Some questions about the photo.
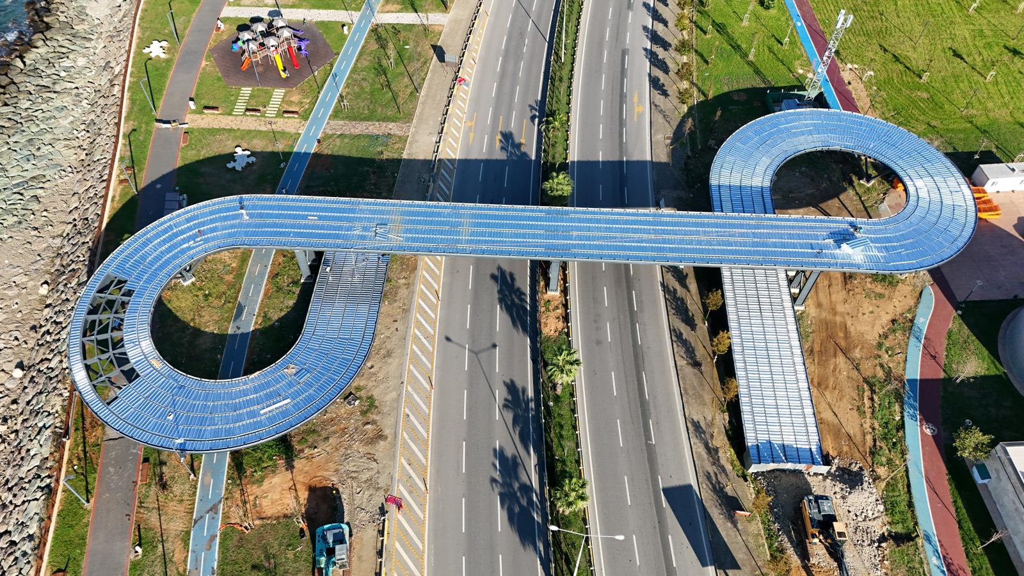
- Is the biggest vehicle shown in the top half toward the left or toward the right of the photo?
left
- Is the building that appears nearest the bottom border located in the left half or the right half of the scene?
right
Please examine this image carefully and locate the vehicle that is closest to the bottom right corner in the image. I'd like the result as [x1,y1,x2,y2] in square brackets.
[793,495,850,576]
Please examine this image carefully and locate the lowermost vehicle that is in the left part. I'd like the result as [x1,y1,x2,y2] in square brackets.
[313,523,355,576]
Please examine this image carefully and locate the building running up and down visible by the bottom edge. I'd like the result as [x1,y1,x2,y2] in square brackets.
[975,441,1024,551]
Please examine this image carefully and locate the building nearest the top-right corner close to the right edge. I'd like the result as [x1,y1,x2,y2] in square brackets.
[973,162,1024,192]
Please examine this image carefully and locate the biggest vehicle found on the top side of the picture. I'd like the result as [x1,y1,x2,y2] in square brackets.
[157,191,195,211]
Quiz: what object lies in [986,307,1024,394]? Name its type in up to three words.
building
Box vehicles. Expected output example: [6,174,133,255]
[313,523,355,576]
[157,191,195,211]
[793,495,850,576]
